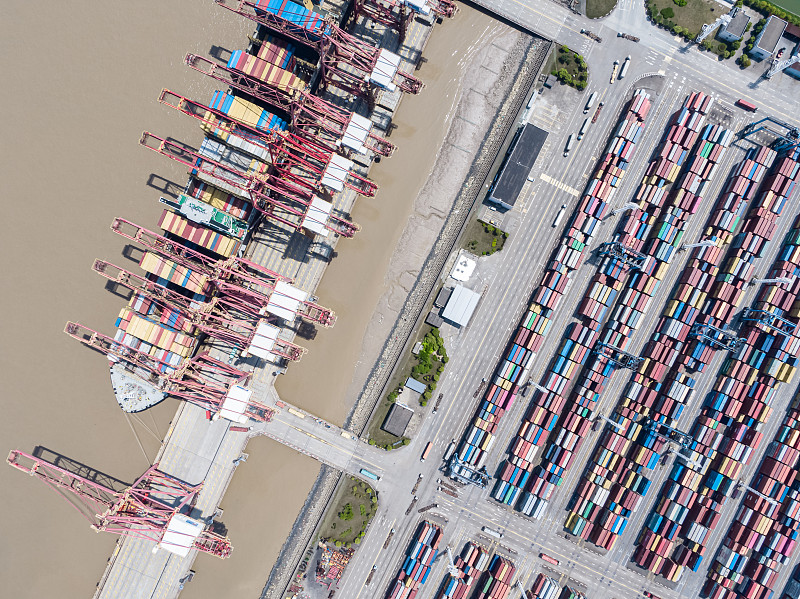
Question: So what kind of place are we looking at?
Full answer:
This looks like a port.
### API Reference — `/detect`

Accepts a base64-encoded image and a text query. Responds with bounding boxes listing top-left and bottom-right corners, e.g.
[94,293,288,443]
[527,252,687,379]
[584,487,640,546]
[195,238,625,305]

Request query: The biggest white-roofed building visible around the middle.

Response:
[442,285,480,326]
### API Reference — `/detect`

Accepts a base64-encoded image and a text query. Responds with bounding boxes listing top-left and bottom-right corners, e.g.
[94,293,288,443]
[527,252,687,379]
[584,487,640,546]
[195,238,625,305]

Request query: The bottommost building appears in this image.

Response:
[385,401,414,436]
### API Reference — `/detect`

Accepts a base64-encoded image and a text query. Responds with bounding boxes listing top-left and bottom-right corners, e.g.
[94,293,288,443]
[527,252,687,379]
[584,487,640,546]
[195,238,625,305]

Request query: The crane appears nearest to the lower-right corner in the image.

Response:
[641,414,696,451]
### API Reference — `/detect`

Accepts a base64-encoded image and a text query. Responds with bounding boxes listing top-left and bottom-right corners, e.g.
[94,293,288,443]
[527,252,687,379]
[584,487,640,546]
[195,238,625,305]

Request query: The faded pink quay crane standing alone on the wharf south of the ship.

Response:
[4,447,234,564]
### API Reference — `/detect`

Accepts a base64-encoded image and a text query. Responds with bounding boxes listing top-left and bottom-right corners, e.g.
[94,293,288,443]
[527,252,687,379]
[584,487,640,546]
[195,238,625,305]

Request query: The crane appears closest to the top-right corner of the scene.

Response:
[741,114,800,152]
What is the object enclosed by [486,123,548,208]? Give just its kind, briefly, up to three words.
building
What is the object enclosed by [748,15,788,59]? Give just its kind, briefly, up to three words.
building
